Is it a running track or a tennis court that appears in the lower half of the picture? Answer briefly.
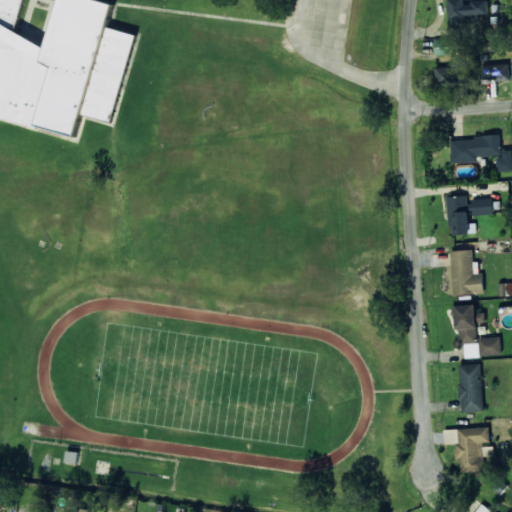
running track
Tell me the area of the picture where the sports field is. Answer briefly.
bottom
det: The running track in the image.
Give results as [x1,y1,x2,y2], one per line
[38,297,375,473]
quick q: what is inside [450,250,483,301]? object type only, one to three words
house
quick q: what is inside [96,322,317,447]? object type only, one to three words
sports field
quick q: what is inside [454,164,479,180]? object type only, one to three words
swimming pool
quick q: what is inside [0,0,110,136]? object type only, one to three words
building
